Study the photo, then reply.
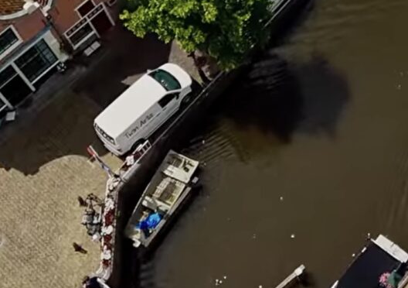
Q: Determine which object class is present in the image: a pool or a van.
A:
van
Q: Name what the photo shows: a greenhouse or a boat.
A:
boat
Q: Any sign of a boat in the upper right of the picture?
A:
No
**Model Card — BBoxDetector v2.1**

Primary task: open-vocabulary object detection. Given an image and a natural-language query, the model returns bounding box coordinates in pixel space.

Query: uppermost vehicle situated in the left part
[87,58,199,152]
